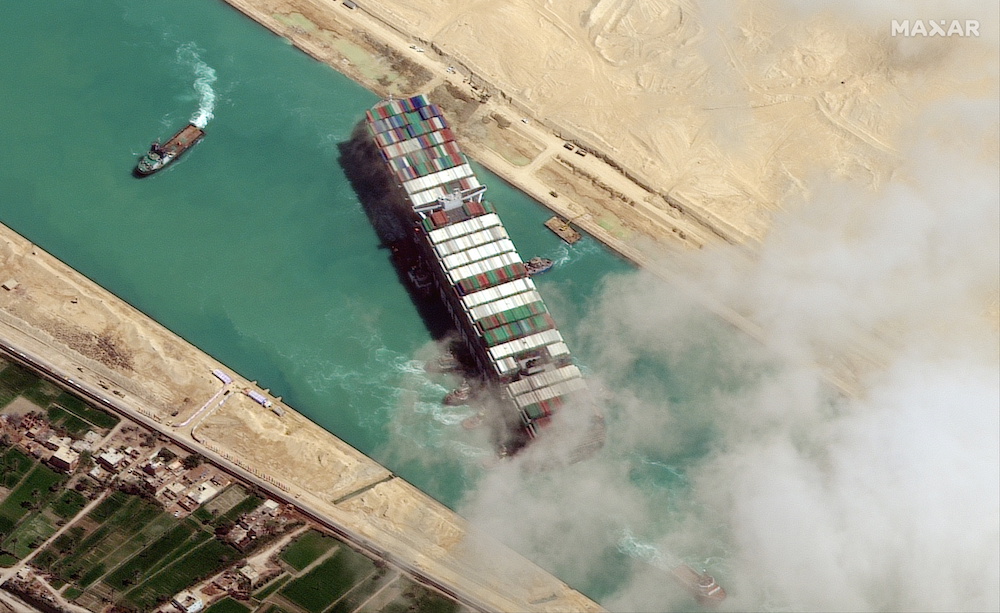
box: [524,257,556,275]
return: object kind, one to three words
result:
boat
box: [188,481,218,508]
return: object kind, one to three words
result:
house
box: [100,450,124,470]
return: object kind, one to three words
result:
house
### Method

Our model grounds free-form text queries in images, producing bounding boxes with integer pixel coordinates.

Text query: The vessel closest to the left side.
[136,122,203,171]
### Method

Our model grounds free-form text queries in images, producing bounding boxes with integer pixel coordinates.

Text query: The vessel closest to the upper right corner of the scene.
[544,215,581,244]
